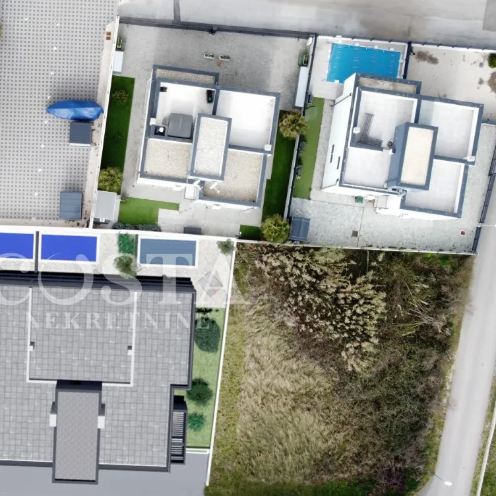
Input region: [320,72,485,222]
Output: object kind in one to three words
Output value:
house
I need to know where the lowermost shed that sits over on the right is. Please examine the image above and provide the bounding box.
[286,217,310,240]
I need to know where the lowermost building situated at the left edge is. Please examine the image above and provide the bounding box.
[0,270,196,485]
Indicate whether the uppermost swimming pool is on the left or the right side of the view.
right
